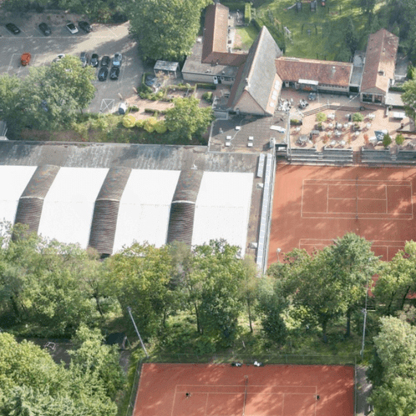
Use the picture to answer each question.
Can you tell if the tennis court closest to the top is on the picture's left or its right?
right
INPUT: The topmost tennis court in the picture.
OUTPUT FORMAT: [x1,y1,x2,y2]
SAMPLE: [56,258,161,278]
[270,164,416,230]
